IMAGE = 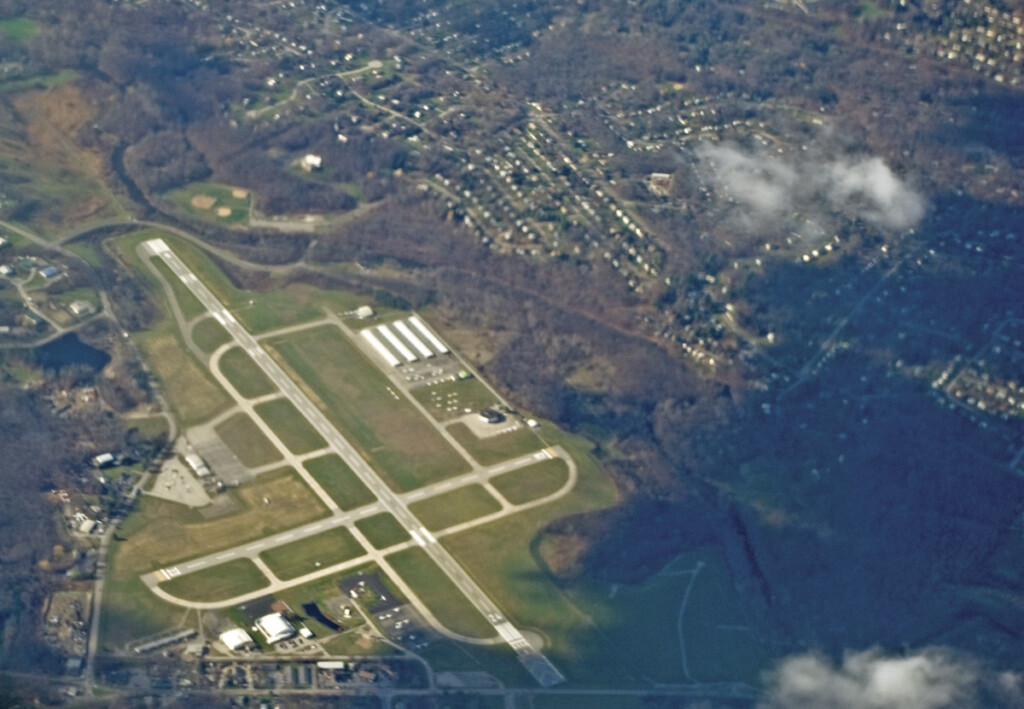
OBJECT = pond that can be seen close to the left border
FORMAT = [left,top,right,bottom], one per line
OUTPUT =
[33,332,112,376]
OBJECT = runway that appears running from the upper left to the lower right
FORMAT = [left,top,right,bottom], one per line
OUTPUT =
[147,238,562,684]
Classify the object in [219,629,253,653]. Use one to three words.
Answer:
hangar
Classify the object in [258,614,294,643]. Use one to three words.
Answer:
hangar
